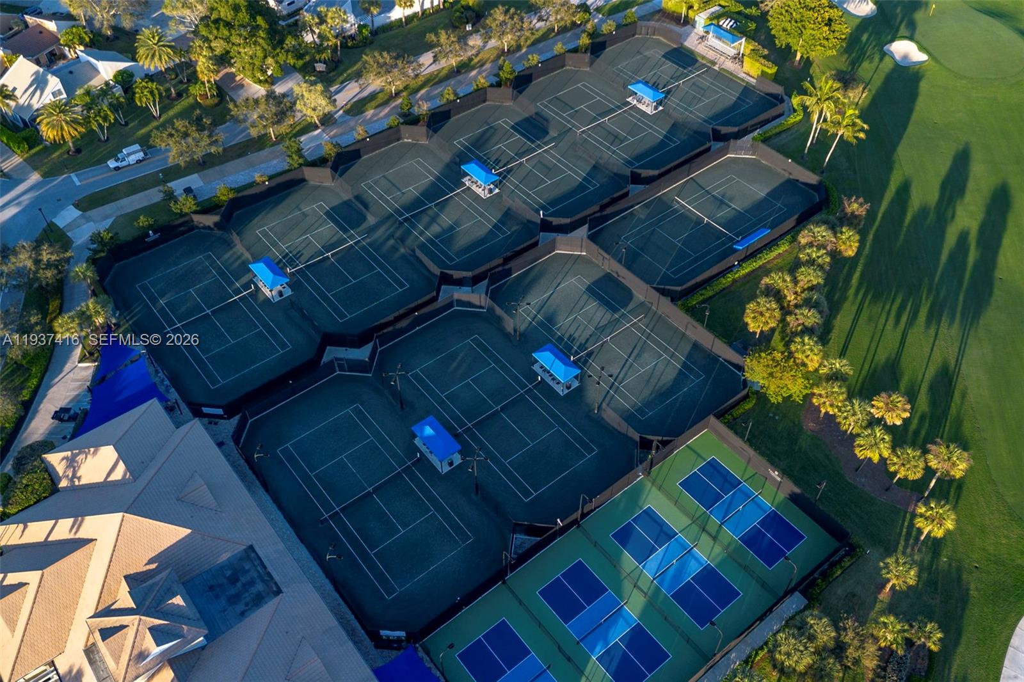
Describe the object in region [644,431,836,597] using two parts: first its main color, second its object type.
blue sports court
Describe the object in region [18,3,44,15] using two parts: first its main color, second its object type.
blue vehicle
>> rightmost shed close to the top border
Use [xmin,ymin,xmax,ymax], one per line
[693,6,724,31]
